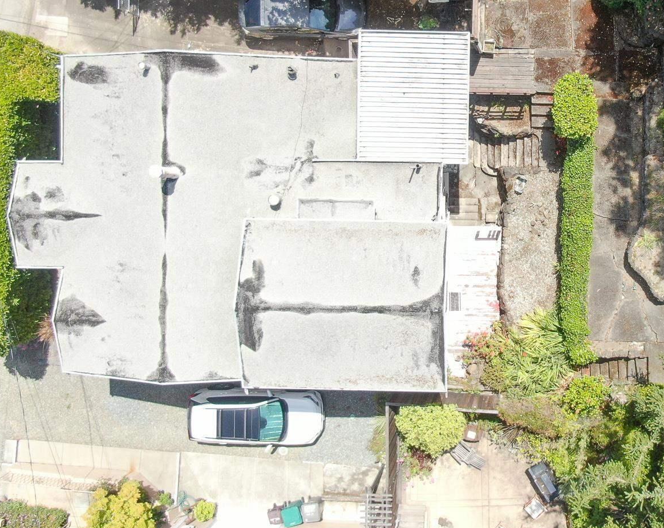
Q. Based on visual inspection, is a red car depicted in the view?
No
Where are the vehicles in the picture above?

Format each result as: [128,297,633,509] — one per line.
[188,384,326,454]
[237,0,369,48]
